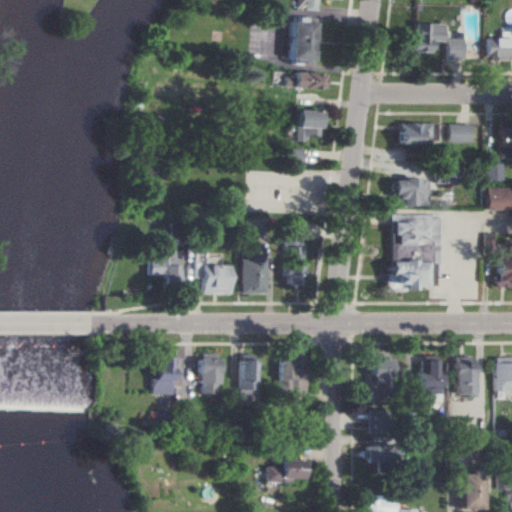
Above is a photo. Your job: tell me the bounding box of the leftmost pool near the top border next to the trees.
[461,5,480,58]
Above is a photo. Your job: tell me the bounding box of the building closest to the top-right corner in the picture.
[484,30,512,62]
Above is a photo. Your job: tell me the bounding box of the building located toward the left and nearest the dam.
[149,358,186,396]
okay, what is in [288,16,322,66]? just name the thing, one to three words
building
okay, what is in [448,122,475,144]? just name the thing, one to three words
building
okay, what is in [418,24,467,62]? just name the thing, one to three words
house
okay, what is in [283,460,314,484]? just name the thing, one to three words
house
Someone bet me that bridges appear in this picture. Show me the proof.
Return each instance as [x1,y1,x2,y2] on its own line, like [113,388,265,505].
[0,311,93,336]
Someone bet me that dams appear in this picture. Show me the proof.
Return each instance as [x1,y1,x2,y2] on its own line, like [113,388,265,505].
[0,384,94,414]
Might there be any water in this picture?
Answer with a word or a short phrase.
Yes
